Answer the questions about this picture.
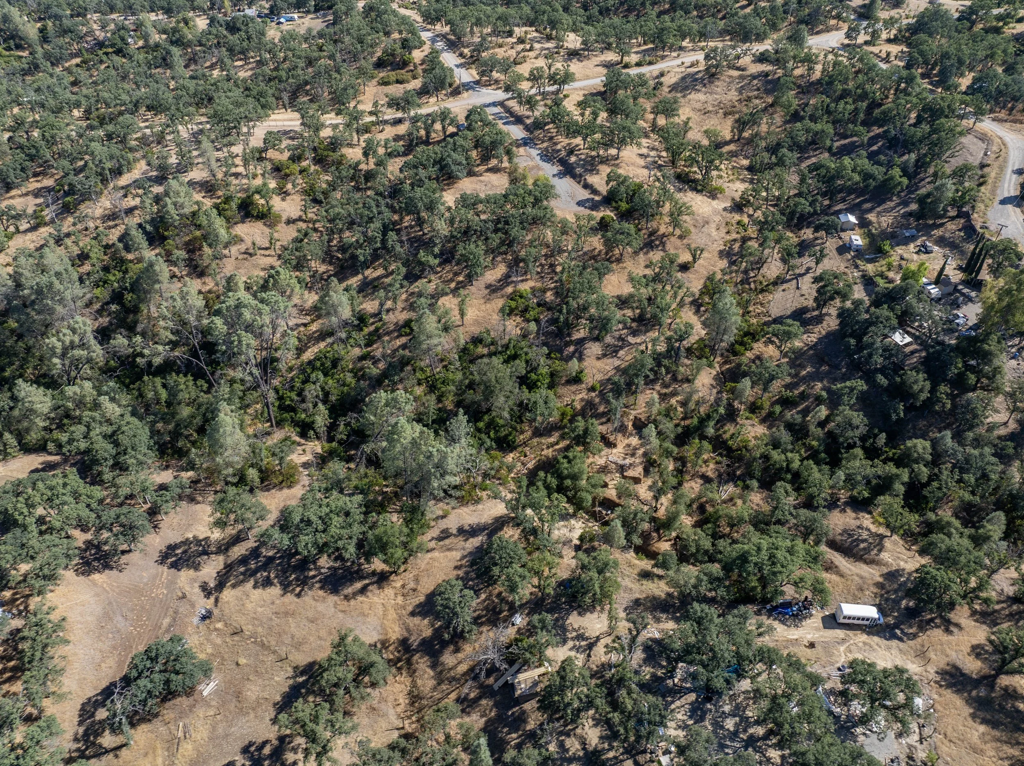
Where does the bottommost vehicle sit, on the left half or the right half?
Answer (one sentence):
The bottommost vehicle sits on the right side.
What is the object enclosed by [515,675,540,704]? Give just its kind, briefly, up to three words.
shed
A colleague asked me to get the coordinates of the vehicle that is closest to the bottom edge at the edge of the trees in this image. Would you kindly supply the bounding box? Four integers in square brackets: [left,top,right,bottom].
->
[831,601,886,624]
